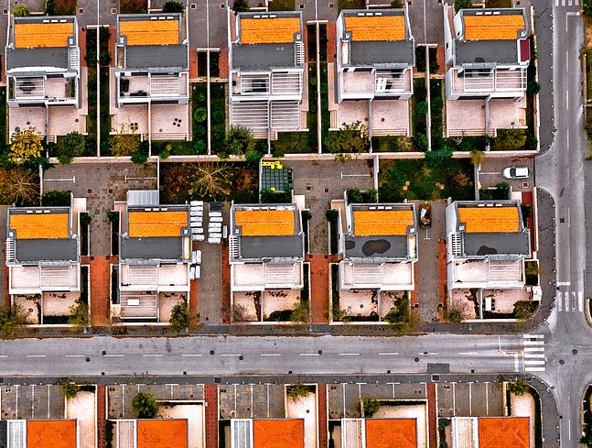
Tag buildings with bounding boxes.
[226,418,304,448]
[445,417,529,448]
[336,417,416,448]
[448,9,528,135]
[6,17,85,141]
[329,10,412,136]
[5,419,78,448]
[339,203,415,316]
[447,200,524,313]
[230,12,307,135]
[119,205,191,318]
[114,418,187,448]
[5,207,80,319]
[108,15,188,141]
[228,204,301,317]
